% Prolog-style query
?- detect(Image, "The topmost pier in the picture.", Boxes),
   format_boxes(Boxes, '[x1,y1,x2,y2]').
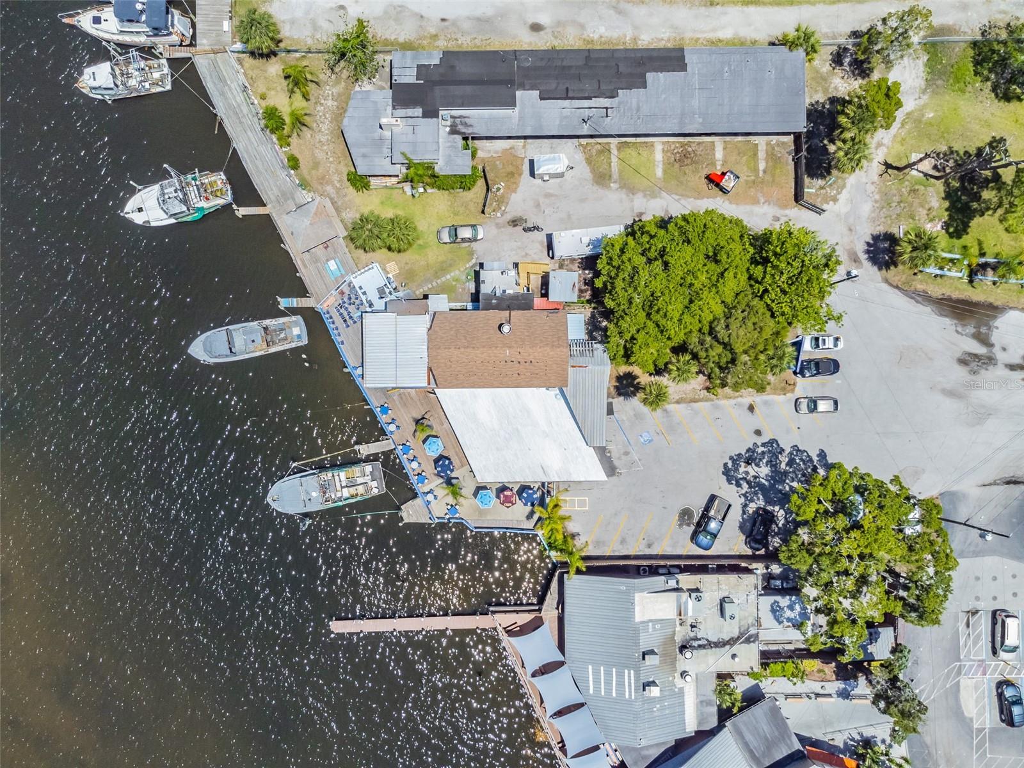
[196,0,232,49]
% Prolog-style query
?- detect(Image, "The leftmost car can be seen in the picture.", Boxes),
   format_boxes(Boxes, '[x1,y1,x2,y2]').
[437,223,484,245]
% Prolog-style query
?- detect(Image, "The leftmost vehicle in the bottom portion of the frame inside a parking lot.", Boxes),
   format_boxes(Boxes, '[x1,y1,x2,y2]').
[692,491,729,550]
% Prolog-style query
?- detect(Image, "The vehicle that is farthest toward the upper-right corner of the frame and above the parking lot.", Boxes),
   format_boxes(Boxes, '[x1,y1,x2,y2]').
[705,169,740,195]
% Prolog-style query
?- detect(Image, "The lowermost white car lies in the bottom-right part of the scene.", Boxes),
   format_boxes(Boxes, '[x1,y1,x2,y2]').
[989,611,1018,658]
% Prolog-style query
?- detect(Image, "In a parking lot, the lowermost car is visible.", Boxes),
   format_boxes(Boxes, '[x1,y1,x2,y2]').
[994,679,1022,727]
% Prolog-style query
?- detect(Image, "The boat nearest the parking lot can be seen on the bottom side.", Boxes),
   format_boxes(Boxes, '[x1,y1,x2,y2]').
[267,462,386,513]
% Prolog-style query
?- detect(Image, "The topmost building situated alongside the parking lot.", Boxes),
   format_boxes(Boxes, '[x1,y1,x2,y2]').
[391,46,806,178]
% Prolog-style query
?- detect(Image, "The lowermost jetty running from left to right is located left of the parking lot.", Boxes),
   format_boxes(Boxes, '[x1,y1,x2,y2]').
[331,615,496,632]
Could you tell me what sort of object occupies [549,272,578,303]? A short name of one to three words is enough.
shed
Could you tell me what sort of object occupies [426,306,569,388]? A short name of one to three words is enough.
building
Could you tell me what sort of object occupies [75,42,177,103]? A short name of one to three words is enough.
boat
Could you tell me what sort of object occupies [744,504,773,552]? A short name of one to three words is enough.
car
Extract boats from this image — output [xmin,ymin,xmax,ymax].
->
[75,42,177,103]
[59,0,196,51]
[188,315,309,364]
[267,462,386,513]
[119,165,237,227]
